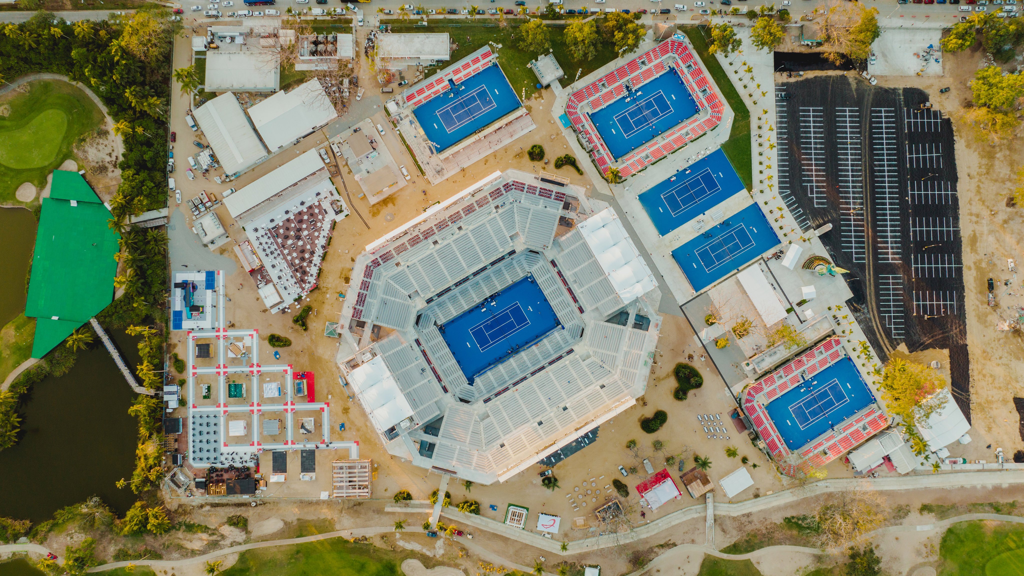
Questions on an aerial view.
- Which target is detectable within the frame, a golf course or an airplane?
golf course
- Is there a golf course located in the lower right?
Yes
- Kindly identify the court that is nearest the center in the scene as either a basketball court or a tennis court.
tennis court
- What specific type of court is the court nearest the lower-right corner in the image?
tennis court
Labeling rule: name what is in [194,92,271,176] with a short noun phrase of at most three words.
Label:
building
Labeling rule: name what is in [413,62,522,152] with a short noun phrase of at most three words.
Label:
tennis court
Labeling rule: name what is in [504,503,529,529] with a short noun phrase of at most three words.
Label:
gazebo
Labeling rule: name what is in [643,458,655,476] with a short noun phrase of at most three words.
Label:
vehicle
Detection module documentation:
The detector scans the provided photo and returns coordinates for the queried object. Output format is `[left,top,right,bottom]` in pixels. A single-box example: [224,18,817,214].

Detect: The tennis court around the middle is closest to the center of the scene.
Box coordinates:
[440,272,561,382]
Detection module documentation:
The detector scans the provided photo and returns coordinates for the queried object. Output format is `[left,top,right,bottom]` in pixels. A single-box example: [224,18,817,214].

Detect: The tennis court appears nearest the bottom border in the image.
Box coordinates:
[766,356,875,451]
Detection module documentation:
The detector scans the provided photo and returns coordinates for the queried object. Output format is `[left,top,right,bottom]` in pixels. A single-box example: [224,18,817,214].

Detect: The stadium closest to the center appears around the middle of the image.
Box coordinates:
[329,168,666,486]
